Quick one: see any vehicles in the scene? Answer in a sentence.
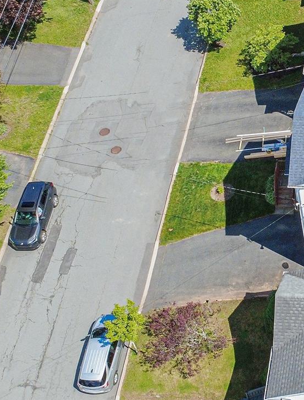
Yes, a vehicle appears in the view.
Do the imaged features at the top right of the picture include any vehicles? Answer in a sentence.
No, I can find no vehicle at the top right of the picture.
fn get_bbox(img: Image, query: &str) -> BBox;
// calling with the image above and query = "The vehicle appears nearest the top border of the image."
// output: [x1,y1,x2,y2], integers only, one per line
[1,182,55,253]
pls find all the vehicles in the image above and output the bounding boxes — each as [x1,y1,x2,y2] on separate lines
[73,310,125,394]
[1,182,55,253]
